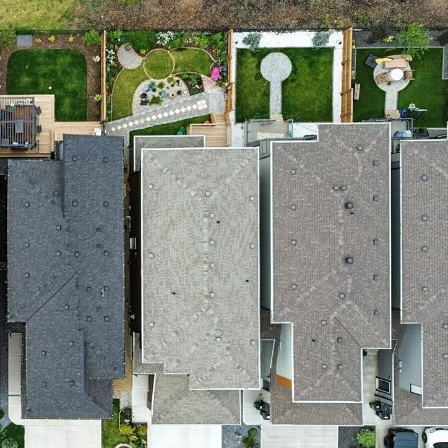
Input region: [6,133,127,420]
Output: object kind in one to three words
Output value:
house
